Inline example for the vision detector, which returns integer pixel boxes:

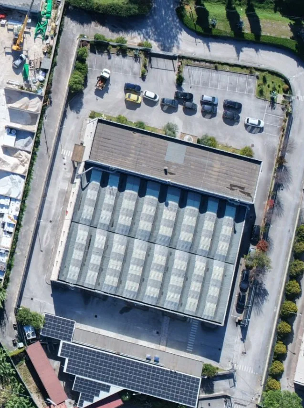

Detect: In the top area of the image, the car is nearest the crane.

[11,55,25,69]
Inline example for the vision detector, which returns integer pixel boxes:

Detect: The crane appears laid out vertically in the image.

[6,0,32,56]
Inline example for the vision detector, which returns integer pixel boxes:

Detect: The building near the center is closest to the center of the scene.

[51,118,263,327]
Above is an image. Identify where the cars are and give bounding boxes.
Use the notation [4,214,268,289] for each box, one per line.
[158,97,178,109]
[173,90,193,101]
[11,55,25,69]
[122,82,143,94]
[221,99,243,111]
[235,291,246,311]
[221,110,239,122]
[239,268,249,290]
[198,94,219,105]
[141,90,160,103]
[124,93,142,104]
[249,223,262,244]
[199,104,218,114]
[244,118,264,128]
[181,100,198,110]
